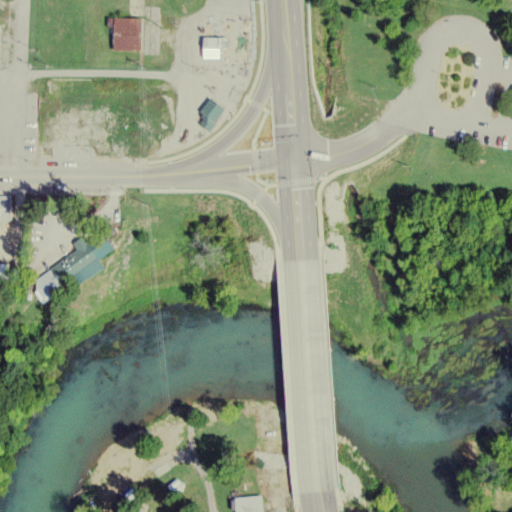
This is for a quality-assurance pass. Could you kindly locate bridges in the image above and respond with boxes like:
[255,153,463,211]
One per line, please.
[276,260,342,493]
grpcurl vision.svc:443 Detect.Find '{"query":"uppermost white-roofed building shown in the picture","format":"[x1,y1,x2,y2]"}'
[202,36,221,60]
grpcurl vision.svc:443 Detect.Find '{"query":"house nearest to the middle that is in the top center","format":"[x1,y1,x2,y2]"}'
[198,98,224,130]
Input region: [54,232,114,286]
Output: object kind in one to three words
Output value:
building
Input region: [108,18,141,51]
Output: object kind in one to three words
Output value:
house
